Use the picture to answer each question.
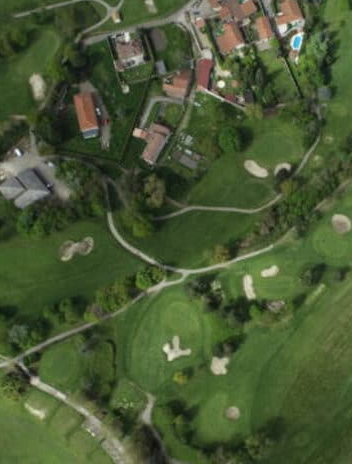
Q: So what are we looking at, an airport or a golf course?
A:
golf course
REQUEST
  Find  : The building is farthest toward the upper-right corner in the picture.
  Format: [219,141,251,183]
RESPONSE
[278,0,305,34]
